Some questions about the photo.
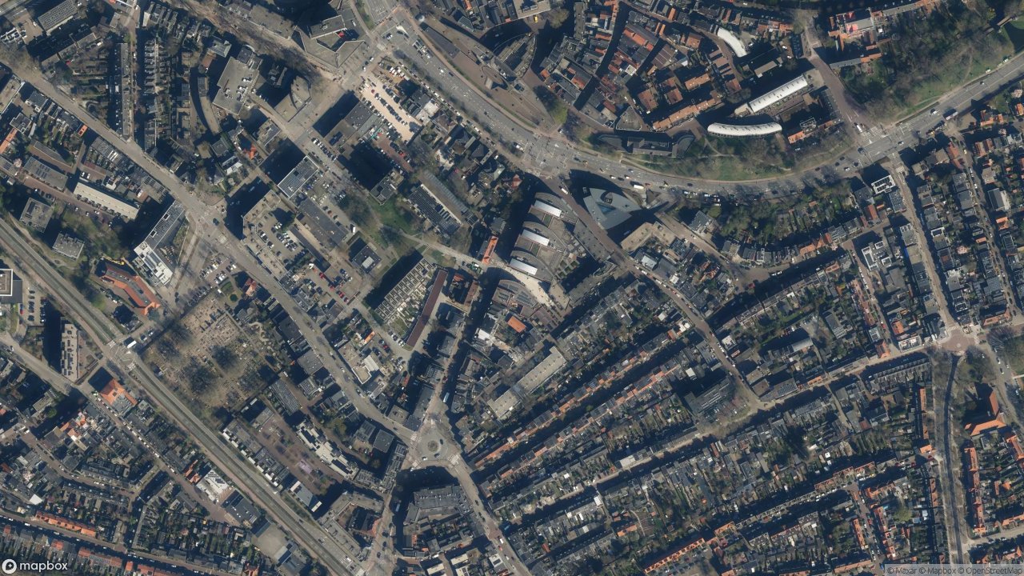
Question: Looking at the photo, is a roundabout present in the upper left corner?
No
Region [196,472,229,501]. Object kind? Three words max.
building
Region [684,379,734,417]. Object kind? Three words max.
building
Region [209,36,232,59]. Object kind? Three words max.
house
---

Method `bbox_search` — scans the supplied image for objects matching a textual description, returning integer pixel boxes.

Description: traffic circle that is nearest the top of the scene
[939,322,978,361]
